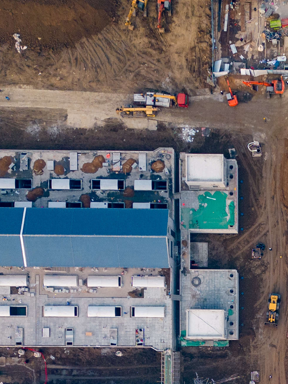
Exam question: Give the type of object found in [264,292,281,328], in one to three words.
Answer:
work vehicle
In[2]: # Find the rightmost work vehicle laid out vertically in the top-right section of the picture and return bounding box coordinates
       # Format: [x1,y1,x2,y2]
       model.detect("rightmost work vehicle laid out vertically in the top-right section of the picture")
[224,77,239,108]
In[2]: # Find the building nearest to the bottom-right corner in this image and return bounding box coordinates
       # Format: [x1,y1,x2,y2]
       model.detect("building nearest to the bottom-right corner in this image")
[180,269,242,341]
